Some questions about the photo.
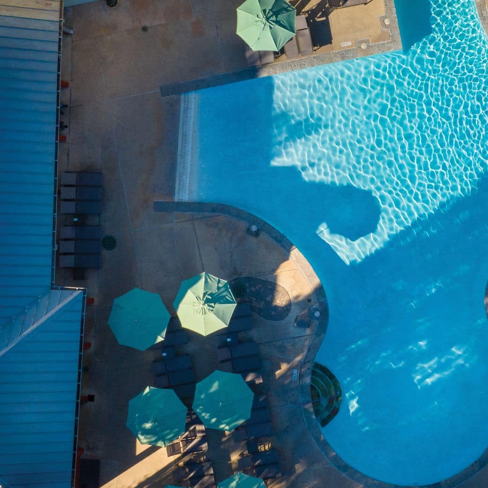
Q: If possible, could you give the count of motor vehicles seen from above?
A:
none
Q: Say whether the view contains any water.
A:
Yes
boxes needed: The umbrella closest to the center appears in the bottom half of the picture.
[176,272,239,335]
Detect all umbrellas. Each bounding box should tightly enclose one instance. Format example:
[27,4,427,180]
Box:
[238,0,297,51]
[219,470,269,488]
[129,385,188,446]
[110,287,173,351]
[176,272,239,335]
[194,369,256,429]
